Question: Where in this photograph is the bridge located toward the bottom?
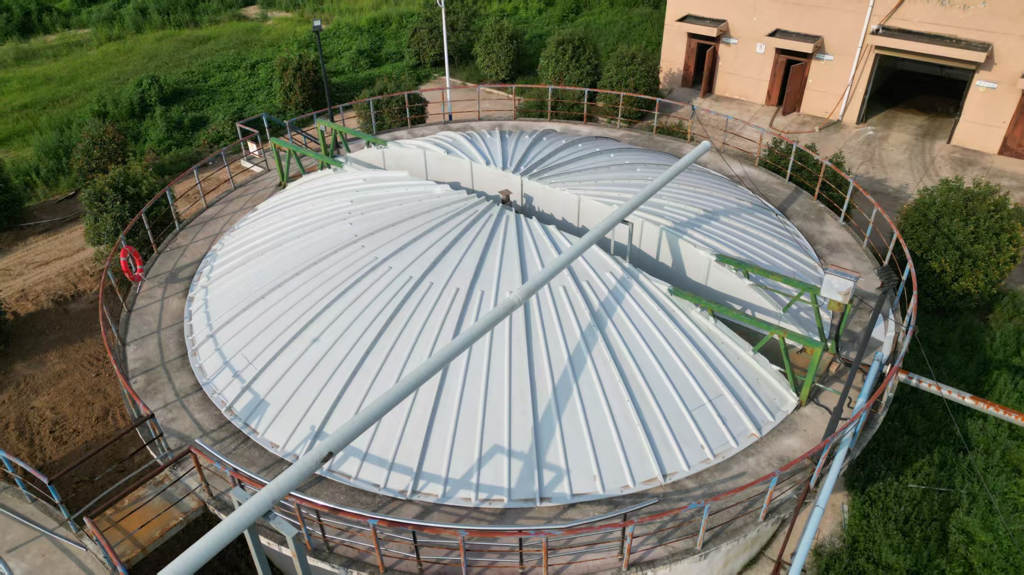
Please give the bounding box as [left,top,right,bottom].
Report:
[75,467,208,571]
